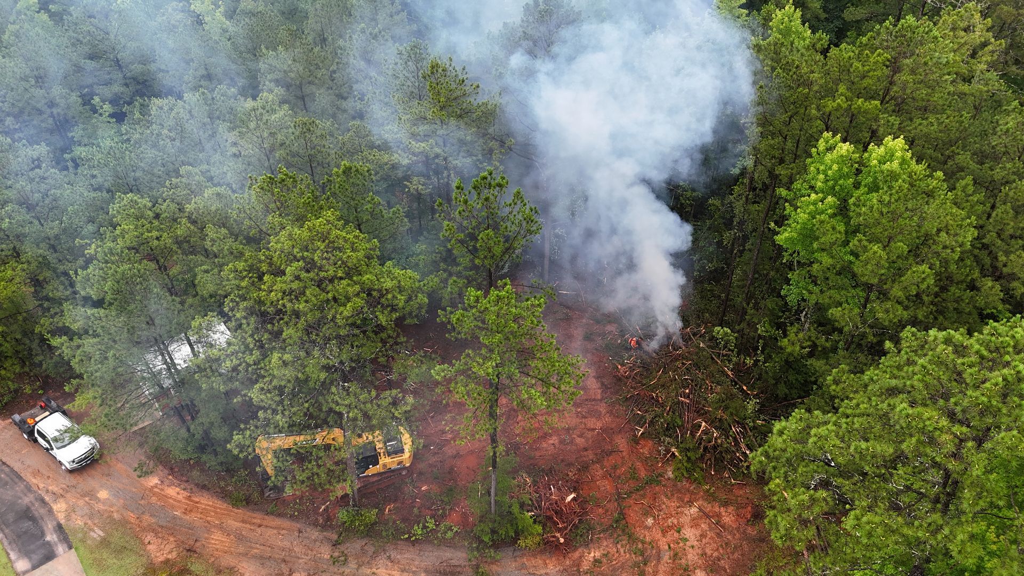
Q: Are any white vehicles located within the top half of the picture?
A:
No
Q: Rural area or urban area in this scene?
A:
rural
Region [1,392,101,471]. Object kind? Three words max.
truck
